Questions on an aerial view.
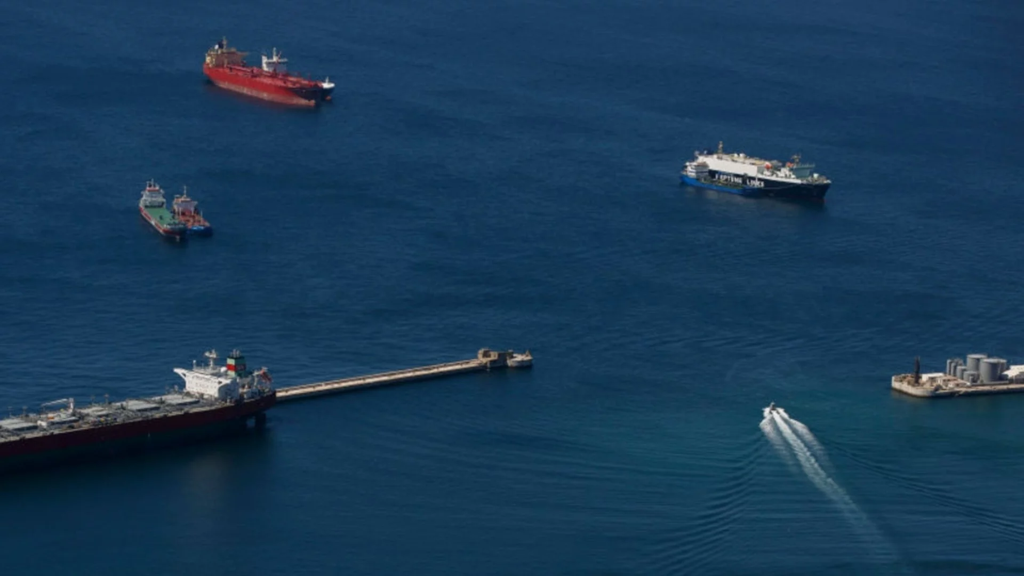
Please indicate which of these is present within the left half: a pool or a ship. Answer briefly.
ship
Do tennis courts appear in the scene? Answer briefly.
No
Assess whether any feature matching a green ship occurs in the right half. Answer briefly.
No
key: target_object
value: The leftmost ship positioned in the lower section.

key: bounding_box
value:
[0,349,280,473]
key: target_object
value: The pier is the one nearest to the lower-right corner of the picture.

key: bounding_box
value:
[892,362,1024,397]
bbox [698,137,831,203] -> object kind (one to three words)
ship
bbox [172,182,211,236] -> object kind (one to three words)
ship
